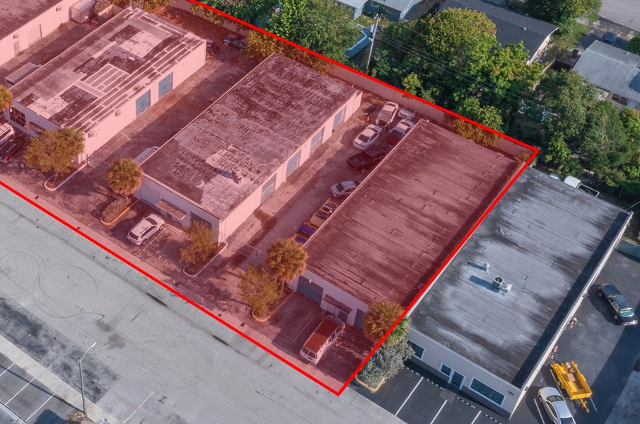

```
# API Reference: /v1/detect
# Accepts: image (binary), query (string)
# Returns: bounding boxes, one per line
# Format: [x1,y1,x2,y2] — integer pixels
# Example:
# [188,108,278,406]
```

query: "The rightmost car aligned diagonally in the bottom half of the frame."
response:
[598,284,640,326]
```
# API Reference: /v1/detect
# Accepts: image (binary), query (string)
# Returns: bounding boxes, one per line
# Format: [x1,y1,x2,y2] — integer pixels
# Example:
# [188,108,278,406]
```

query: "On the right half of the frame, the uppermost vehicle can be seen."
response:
[598,27,624,48]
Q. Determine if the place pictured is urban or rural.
urban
